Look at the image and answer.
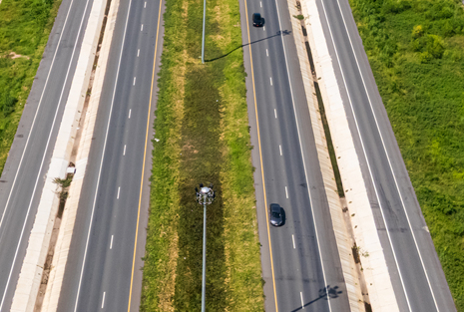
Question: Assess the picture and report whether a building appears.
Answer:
No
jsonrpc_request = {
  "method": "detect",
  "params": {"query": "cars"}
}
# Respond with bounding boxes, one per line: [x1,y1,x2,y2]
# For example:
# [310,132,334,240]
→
[271,201,286,223]
[254,9,264,23]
